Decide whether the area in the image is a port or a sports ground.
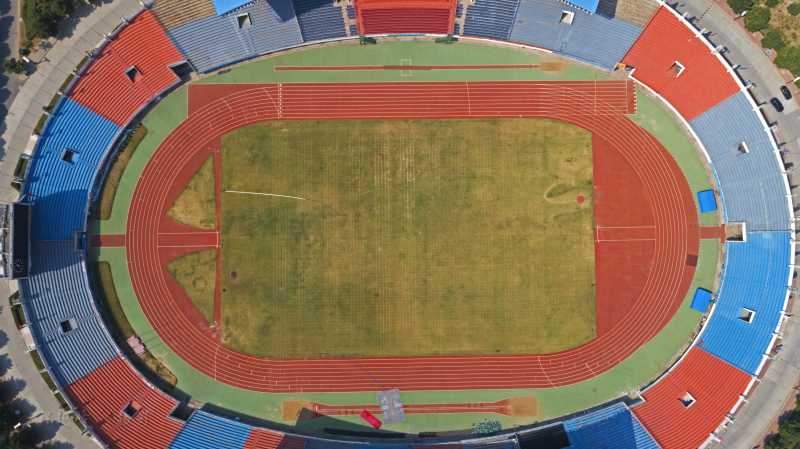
sports ground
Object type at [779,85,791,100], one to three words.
vehicle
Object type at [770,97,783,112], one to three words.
vehicle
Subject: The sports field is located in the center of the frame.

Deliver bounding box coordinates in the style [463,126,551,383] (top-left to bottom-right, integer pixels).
[220,119,595,358]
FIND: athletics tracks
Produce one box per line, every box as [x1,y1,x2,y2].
[91,80,722,393]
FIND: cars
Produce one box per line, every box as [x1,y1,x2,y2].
[779,85,791,100]
[770,97,783,112]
